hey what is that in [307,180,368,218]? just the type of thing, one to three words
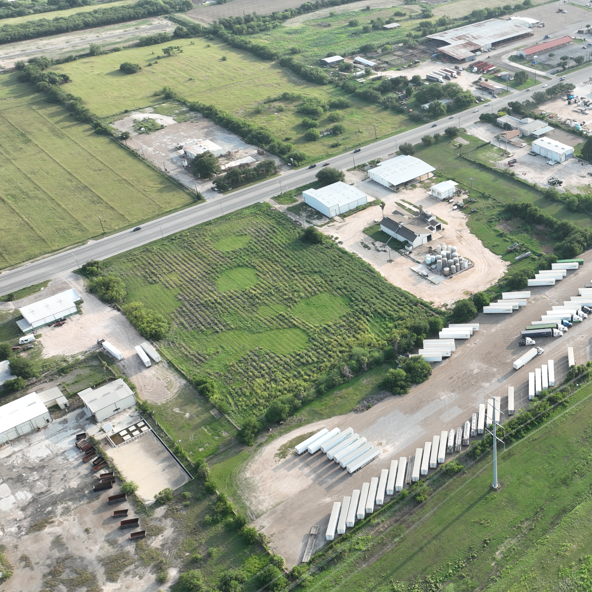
building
